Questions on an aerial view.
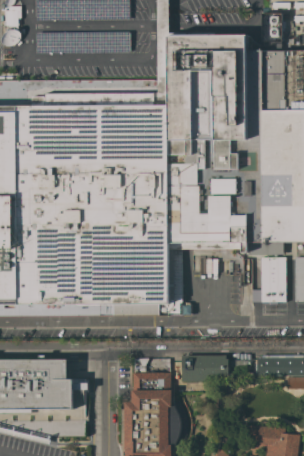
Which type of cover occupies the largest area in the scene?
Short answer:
buildings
